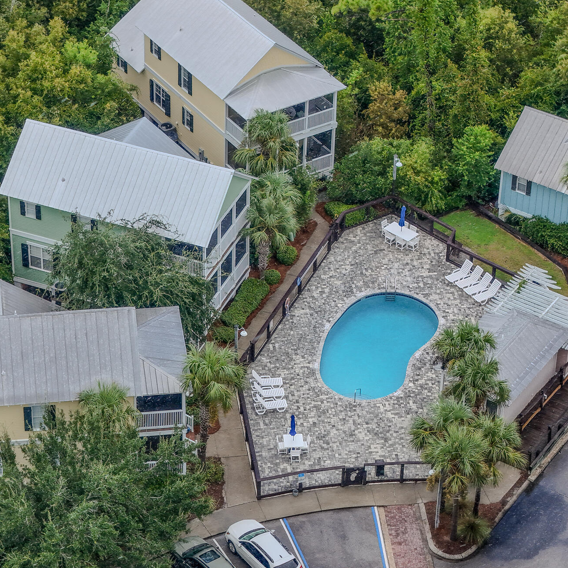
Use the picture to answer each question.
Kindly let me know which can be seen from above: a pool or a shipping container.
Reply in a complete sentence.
Of the two, only a pool appears.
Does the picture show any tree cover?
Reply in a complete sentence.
Yes, tree cover can be seen from above here.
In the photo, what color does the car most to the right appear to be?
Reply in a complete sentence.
The car most to the right is white.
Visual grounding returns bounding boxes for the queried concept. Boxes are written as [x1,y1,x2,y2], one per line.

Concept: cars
[168,535,237,568]
[222,517,307,568]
